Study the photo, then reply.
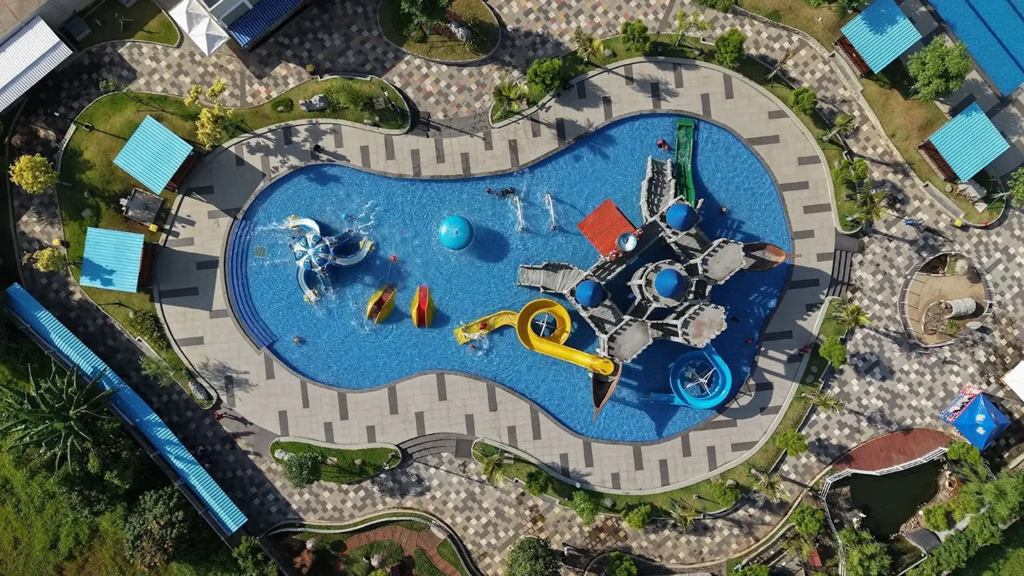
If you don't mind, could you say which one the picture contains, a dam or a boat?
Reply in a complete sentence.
I can see a boat in this picture.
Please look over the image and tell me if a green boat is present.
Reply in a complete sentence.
No, no green boat is visible in the view.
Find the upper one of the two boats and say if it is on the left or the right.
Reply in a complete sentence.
It is on the right.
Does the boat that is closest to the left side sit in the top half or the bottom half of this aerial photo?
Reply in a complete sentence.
You can find the boat that is closest to the left side in the bottom half.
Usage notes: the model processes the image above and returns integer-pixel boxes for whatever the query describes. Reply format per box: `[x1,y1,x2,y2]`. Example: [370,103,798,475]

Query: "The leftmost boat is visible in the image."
[591,362,622,422]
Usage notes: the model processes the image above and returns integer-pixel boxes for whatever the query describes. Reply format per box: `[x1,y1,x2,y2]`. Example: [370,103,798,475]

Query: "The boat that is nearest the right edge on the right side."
[744,242,802,271]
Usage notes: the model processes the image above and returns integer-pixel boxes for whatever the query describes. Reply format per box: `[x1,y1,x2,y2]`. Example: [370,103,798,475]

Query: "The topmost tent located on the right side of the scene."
[967,349,1024,408]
